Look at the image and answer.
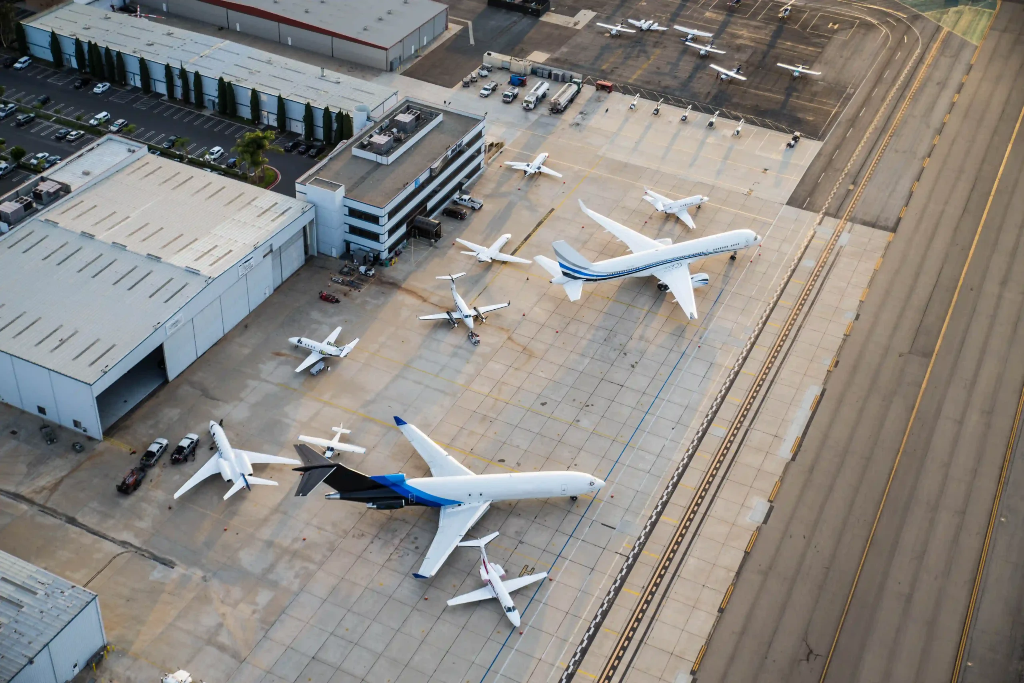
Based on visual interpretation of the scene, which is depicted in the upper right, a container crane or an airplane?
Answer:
airplane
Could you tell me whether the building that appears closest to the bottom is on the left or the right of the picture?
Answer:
left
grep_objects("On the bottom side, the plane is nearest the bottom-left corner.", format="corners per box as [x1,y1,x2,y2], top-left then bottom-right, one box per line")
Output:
[173,422,299,502]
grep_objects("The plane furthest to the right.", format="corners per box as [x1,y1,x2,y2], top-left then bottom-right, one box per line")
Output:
[776,62,819,80]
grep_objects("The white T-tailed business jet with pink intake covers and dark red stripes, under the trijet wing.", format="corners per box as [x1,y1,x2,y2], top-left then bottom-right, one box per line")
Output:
[445,531,548,627]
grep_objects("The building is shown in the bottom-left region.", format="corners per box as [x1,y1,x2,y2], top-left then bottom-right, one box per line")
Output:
[0,550,107,683]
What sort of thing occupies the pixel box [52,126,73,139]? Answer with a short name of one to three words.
vehicle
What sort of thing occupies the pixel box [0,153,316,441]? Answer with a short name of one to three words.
hangar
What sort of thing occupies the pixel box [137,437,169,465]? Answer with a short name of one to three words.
truck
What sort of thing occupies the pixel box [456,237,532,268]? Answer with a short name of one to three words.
airplane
